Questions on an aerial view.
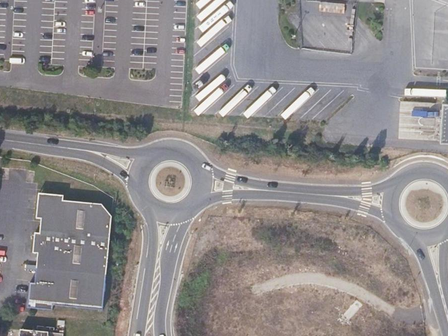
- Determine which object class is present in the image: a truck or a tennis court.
truck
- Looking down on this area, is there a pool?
No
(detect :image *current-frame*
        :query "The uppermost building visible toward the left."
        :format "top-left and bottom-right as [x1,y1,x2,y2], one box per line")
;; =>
[24,194,112,310]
